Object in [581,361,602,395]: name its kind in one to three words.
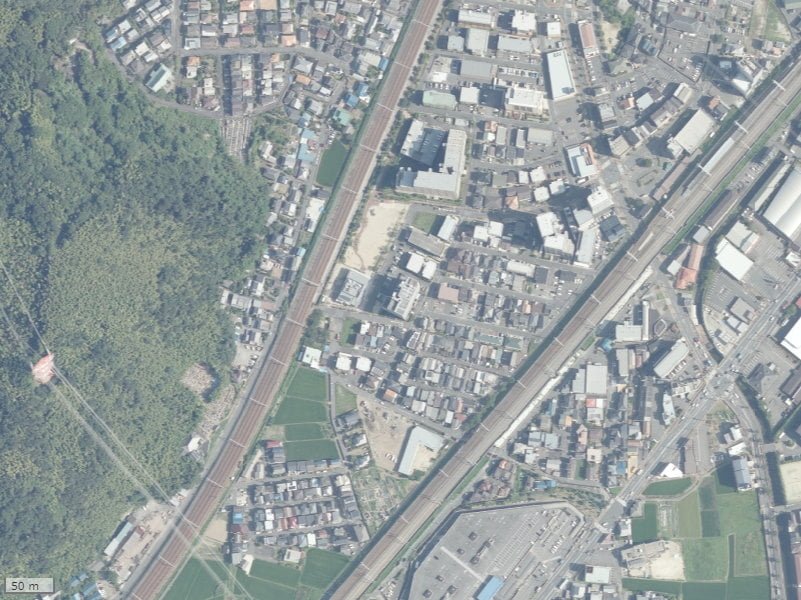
building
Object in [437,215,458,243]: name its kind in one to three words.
building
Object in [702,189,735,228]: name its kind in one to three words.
shed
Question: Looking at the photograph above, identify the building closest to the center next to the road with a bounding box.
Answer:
[386,275,421,323]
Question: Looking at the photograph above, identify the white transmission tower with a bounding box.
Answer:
[28,361,56,383]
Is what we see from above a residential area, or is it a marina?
residential area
